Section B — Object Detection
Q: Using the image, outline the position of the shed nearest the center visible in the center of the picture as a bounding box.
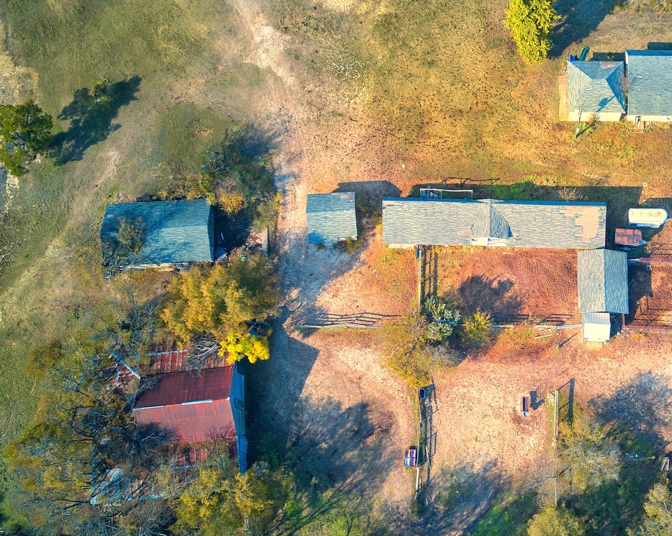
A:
[307,191,358,248]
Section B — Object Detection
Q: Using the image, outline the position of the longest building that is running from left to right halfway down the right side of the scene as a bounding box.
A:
[381,195,606,257]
